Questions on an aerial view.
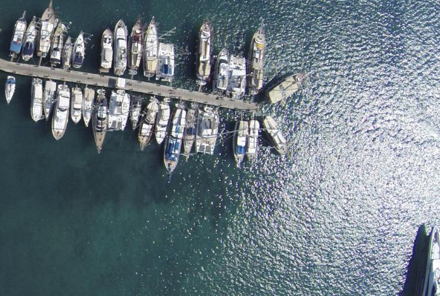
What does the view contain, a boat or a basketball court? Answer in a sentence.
Looking from above, you can make out a boat.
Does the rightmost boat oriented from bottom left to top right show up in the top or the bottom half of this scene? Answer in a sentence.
The top half of the photo is where the rightmost boat oriented from bottom left to top right is.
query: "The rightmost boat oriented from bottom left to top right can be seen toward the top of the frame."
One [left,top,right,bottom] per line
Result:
[264,74,305,106]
